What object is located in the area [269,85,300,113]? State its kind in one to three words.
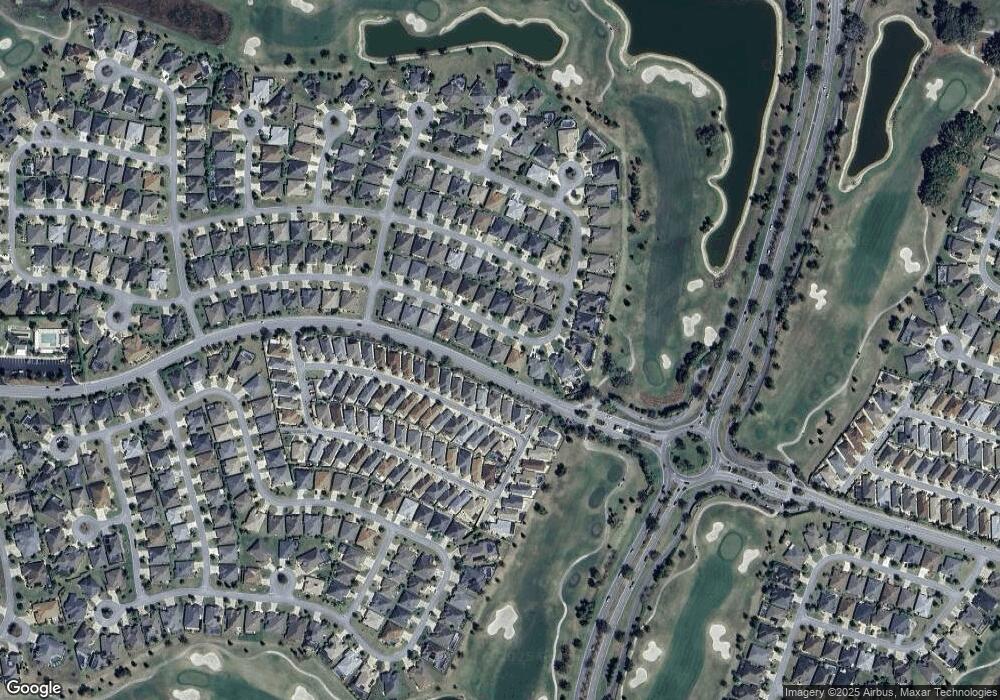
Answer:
house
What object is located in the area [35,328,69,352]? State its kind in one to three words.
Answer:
swimming pool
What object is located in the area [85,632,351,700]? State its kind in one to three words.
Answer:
golf course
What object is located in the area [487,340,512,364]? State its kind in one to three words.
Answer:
house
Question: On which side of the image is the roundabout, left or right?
right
